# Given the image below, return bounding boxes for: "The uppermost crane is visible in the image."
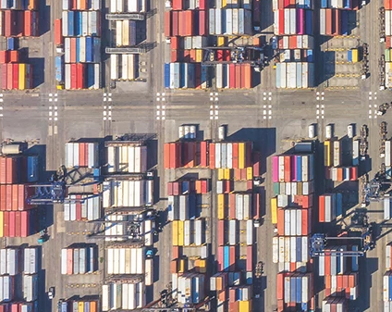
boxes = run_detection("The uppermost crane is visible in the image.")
[202,43,265,68]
